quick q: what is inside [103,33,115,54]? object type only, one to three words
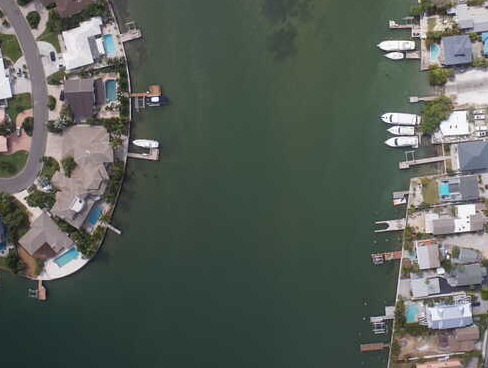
swimming pool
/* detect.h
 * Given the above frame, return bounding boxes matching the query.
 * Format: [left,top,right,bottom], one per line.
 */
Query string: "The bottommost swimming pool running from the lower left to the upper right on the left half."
[53,248,80,268]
